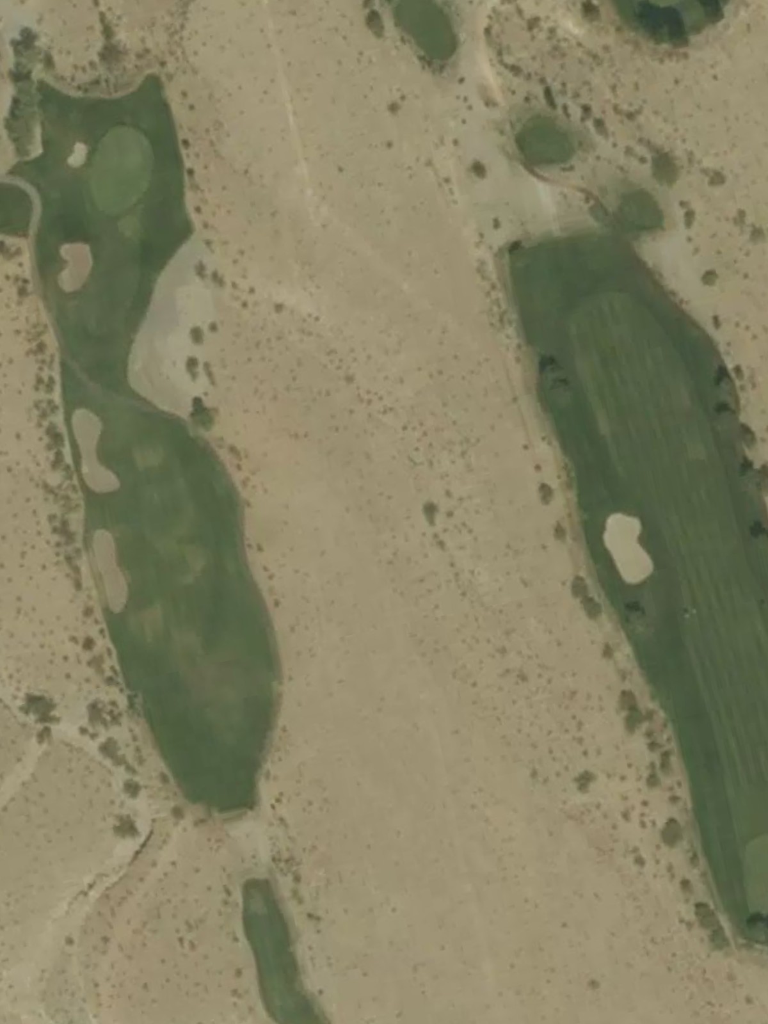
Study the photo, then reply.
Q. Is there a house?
No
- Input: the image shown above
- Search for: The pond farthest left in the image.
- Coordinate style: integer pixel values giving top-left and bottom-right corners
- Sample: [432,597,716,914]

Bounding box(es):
[632,0,688,46]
